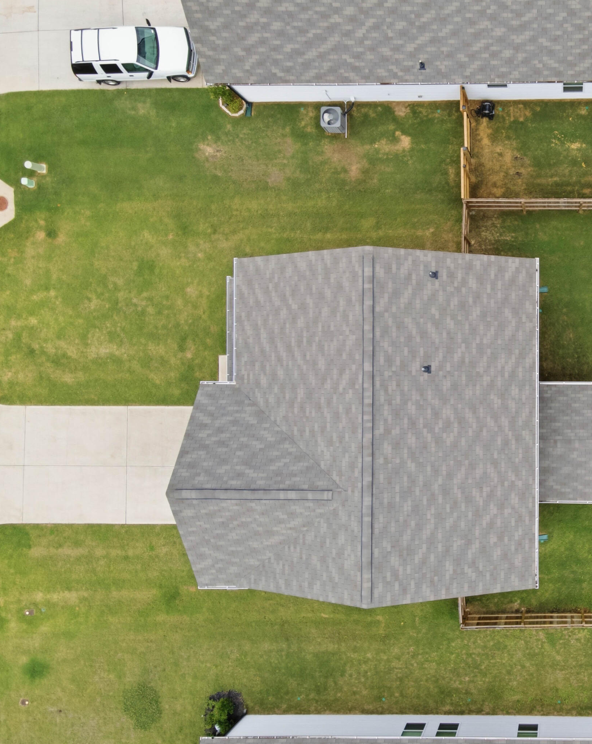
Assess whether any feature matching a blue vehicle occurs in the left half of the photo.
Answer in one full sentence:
No, I can find no blue vehicle in the left half of the photo.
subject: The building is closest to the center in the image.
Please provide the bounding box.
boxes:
[168,247,592,609]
